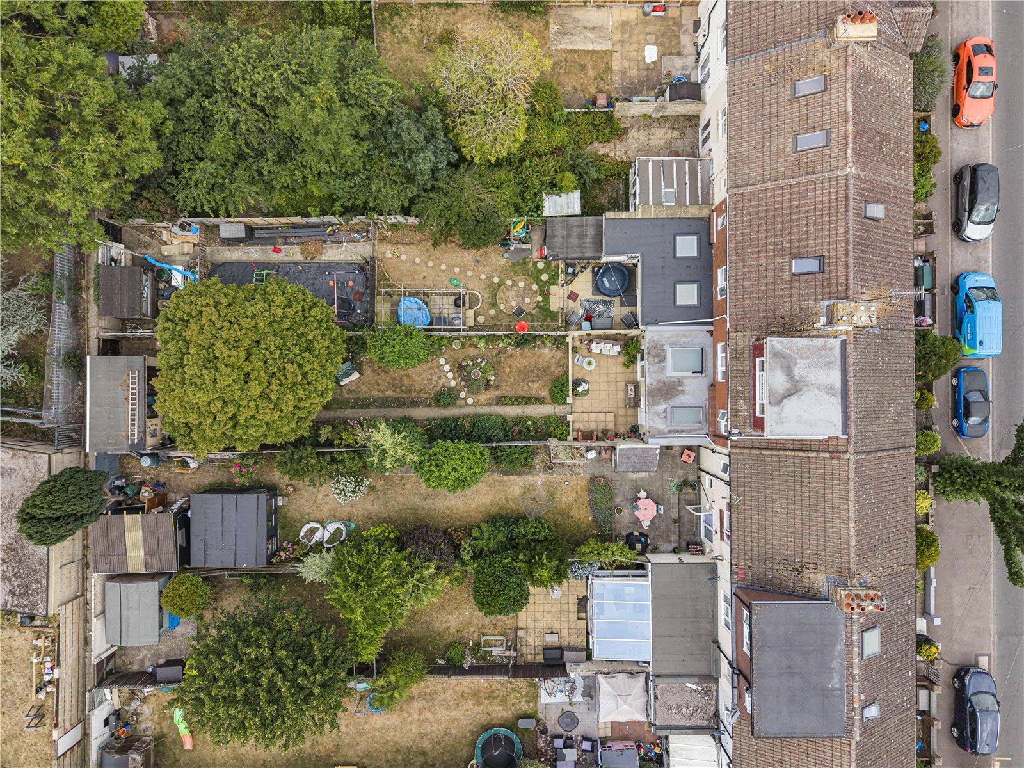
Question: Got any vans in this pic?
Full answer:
Yes, the picture does show a van.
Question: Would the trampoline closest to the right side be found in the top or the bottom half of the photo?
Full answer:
The bottom half of the photo is where the trampoline closest to the right side is.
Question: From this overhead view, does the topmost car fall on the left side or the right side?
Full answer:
You can find the topmost car on the right side of the picture.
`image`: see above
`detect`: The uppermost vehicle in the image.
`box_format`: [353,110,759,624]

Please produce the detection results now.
[951,36,1004,129]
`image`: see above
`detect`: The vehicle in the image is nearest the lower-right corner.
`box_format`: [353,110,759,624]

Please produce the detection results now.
[950,663,1005,757]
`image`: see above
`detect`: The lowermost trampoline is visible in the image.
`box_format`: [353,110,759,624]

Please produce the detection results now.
[473,722,525,768]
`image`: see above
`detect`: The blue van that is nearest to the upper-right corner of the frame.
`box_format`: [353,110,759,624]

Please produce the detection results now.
[953,269,1012,361]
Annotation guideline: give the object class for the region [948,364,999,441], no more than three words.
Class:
car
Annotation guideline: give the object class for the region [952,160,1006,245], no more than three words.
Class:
car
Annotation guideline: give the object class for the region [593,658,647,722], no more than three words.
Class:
gazebo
